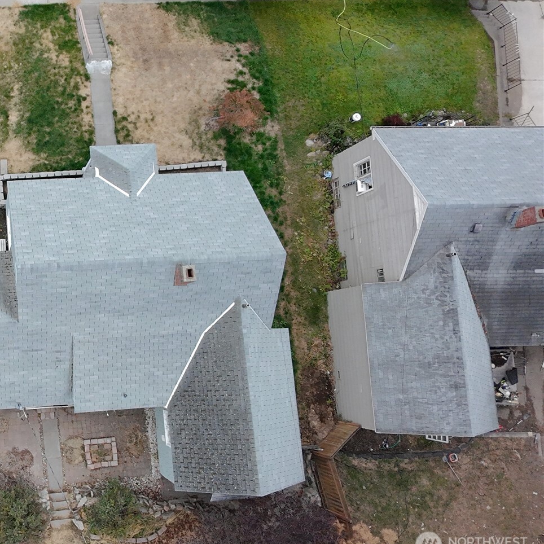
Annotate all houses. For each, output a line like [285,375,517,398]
[0,143,305,501]
[327,123,544,437]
